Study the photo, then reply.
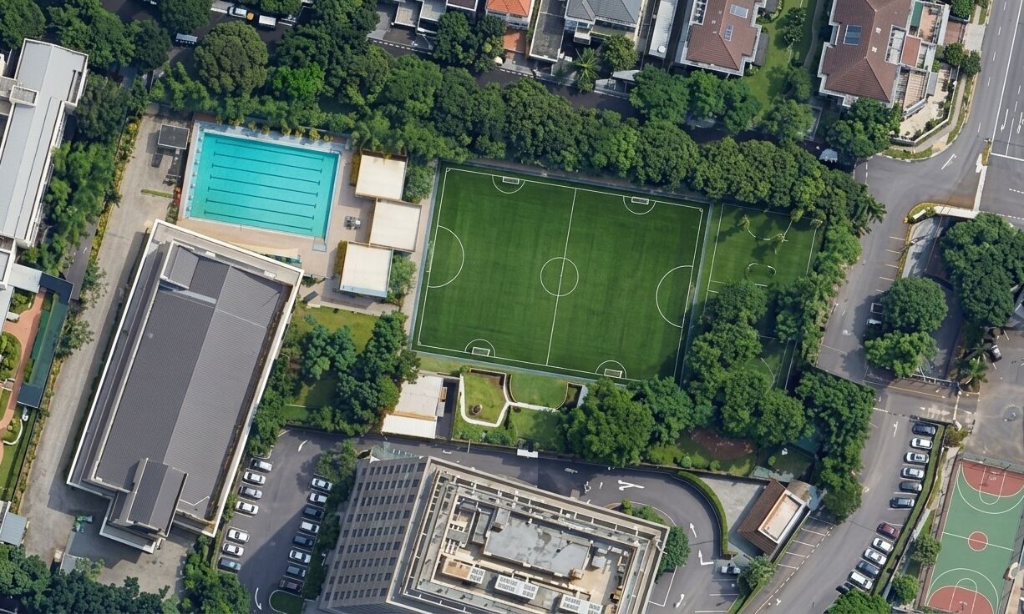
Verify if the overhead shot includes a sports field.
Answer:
Yes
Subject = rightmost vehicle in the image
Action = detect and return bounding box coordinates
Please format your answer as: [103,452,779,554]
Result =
[990,341,1007,364]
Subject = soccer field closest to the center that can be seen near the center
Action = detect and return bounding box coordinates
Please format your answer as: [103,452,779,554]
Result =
[412,162,711,382]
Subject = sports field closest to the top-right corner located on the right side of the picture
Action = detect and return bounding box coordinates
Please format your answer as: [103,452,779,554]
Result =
[695,200,820,397]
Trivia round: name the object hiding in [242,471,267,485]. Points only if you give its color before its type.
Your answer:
white car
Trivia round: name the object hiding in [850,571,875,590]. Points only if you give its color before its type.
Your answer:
white car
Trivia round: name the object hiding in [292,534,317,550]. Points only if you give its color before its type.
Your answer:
black car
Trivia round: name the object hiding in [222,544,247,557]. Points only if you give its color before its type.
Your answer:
white vehicle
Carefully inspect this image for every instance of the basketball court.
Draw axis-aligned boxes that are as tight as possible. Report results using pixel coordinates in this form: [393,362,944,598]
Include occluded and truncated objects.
[917,454,1024,614]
